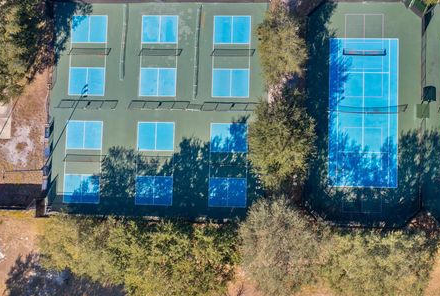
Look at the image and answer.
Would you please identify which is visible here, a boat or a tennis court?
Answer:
tennis court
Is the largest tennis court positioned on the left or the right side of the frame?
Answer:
right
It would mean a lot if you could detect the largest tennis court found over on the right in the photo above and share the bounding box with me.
[328,14,398,212]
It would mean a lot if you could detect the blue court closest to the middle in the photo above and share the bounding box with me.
[209,124,248,207]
